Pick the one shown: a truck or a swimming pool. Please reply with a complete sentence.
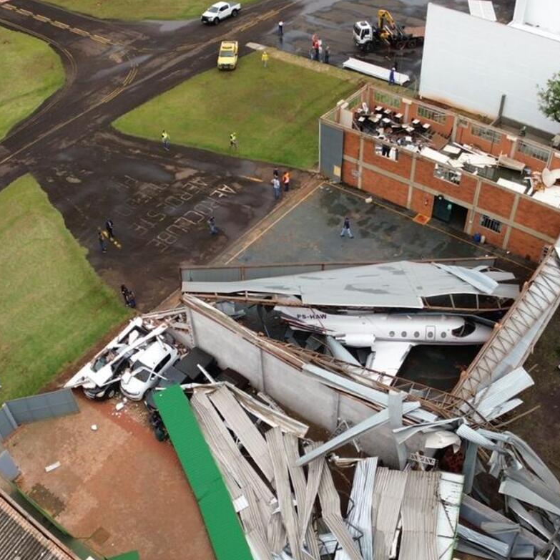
Visible in the photo is a truck.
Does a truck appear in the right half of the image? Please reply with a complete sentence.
Yes, you'll find a truck in the right half of the image.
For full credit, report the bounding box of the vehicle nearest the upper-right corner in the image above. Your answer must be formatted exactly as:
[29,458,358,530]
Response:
[350,0,426,51]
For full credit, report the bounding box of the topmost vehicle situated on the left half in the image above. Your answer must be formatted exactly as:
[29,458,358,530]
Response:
[198,1,241,26]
